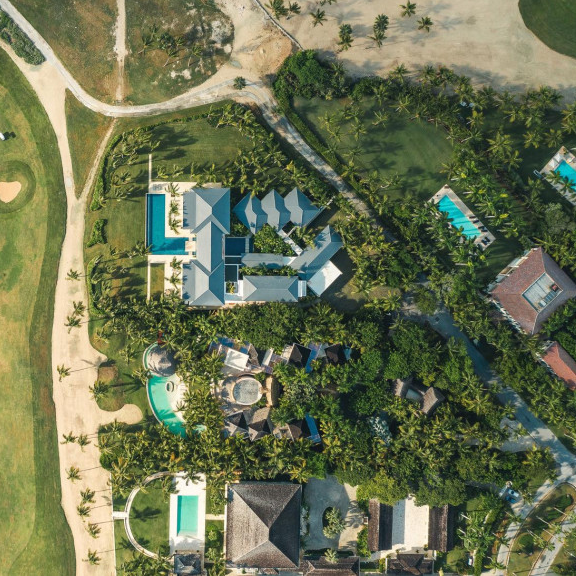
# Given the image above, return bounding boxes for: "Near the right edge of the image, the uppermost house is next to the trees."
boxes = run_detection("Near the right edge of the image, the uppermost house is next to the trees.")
[486,248,576,335]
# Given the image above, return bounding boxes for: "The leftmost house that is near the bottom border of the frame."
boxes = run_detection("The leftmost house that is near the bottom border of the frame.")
[223,477,360,576]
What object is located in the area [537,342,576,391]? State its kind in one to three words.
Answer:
house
